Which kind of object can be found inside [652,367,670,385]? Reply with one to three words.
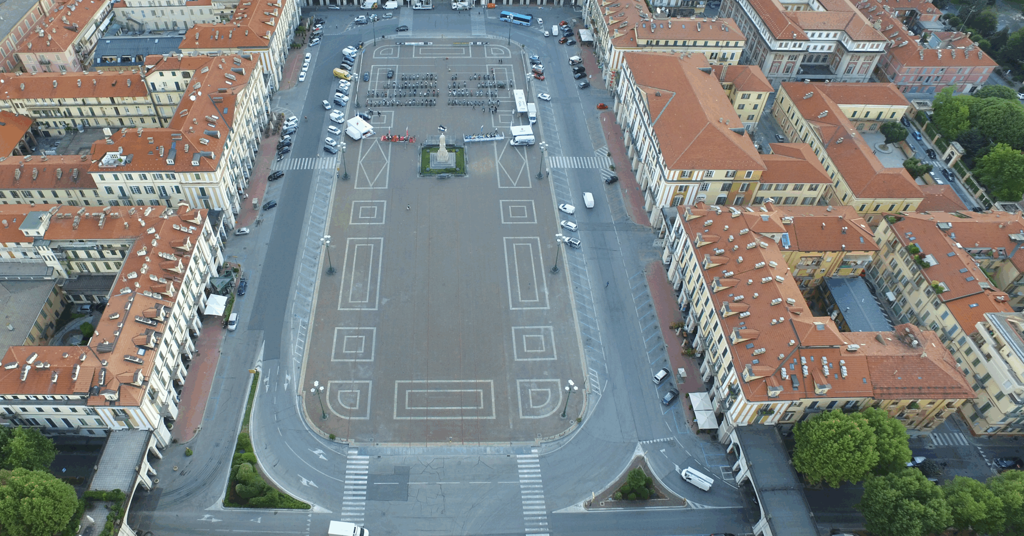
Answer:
car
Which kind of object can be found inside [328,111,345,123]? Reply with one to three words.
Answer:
vehicle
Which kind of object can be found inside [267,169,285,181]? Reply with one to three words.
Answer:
vehicle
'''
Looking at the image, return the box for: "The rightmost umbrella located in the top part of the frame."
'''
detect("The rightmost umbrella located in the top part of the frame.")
[579,30,593,44]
